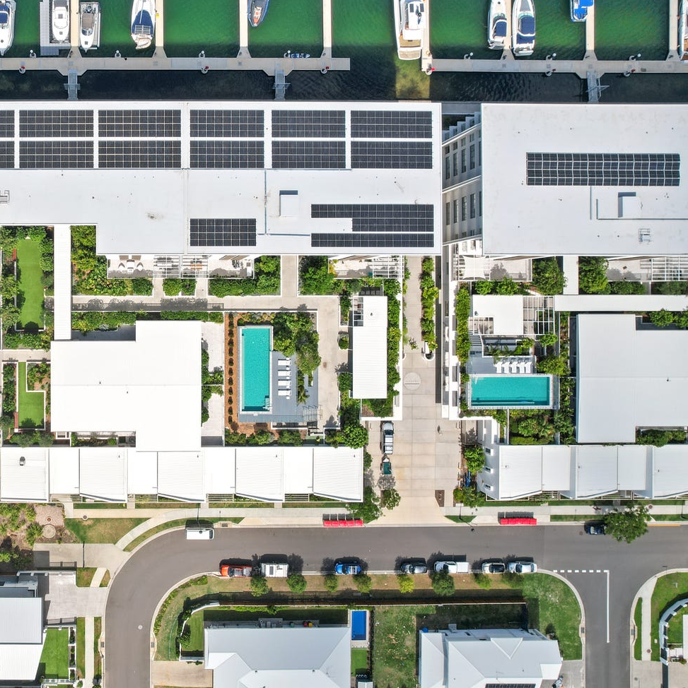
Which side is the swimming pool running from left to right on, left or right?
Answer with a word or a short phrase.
right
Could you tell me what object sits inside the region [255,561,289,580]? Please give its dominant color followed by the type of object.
white camper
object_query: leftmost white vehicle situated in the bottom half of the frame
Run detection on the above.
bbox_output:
[184,527,215,540]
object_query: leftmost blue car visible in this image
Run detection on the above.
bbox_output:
[334,562,362,576]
